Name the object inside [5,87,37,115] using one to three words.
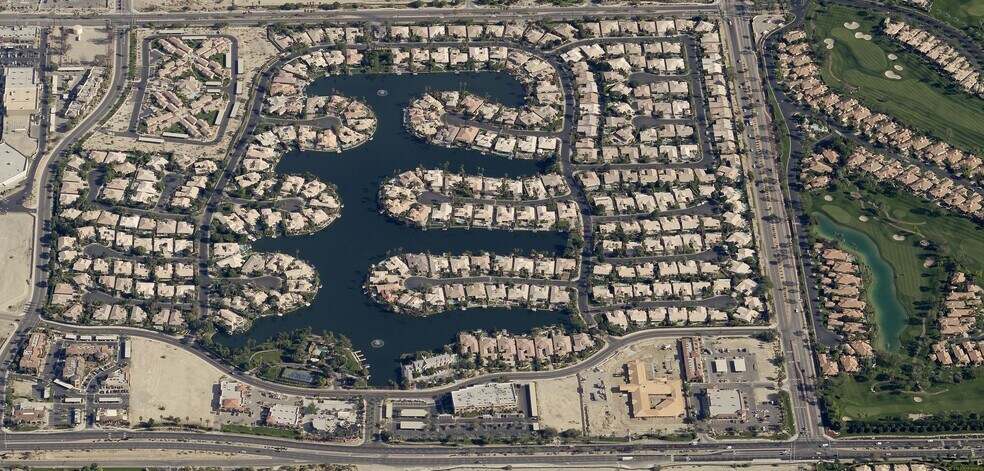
building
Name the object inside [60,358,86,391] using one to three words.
building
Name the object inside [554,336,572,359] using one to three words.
house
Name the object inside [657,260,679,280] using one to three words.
house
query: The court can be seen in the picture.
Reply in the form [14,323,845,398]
[278,362,320,384]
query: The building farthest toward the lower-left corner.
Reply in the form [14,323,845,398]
[12,409,45,430]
